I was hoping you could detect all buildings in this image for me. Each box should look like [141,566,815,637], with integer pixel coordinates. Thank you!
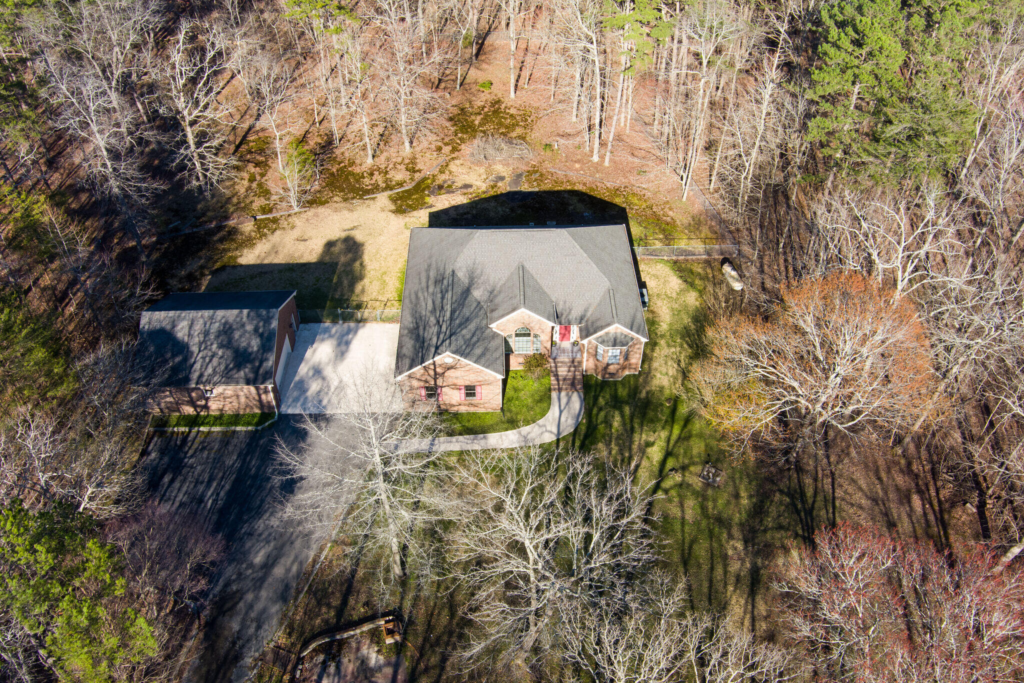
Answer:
[395,222,649,420]
[132,290,299,416]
